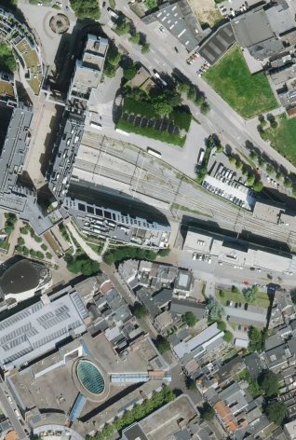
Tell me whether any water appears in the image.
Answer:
No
